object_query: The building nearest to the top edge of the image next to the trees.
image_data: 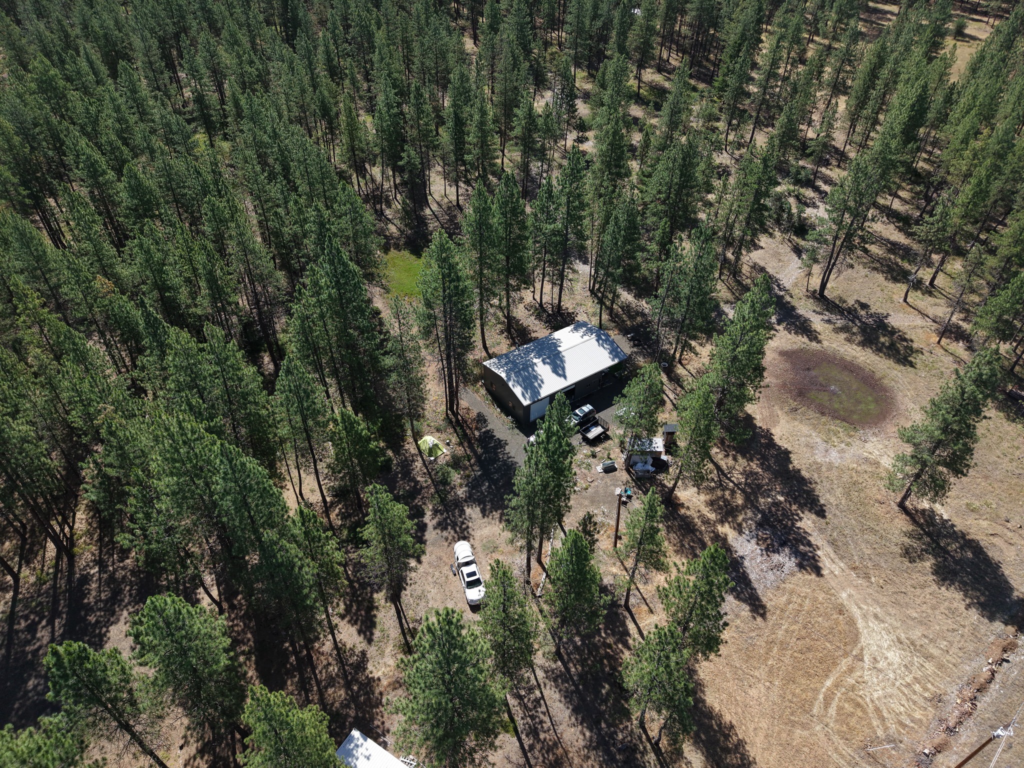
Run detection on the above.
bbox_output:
[484,319,628,426]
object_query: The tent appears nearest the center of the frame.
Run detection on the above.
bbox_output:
[417,437,448,459]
